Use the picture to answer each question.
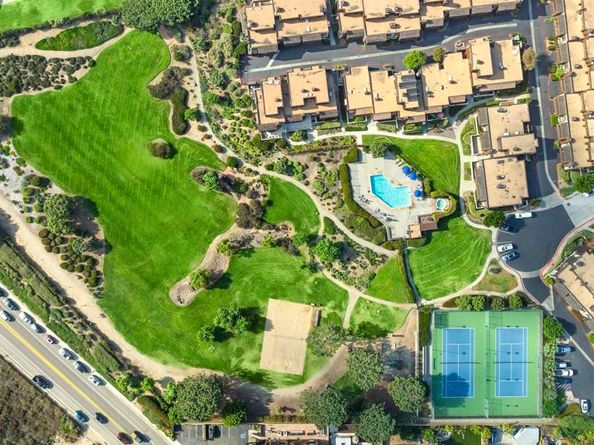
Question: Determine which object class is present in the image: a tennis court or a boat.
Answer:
tennis court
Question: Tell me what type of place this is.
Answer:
residential area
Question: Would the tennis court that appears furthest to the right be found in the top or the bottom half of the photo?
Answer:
bottom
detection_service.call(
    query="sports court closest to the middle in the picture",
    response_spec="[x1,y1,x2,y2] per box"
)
[260,298,312,375]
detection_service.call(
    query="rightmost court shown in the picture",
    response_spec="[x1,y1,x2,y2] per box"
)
[487,312,538,417]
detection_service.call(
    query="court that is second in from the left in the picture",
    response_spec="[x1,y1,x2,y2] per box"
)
[432,312,487,417]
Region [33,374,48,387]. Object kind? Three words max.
vehicle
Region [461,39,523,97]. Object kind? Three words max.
house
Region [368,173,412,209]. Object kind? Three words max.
swimming pool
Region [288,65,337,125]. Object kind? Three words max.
house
